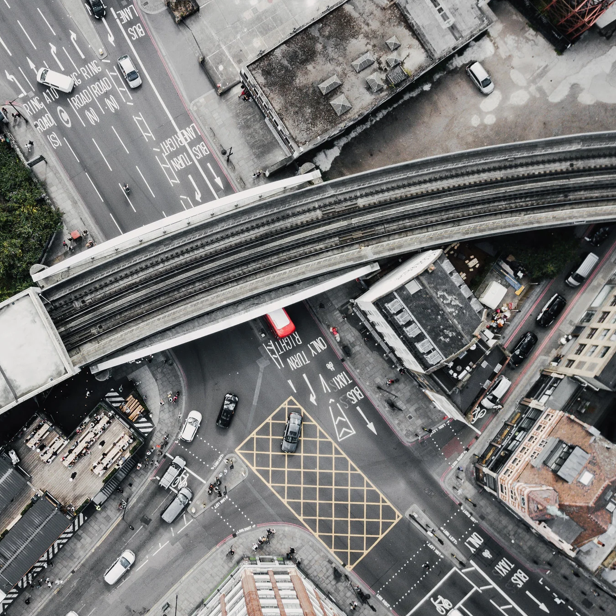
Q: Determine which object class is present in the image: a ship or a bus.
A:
bus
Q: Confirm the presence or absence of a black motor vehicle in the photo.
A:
Yes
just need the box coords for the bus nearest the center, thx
[260,307,297,344]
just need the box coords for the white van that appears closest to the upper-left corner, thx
[32,66,79,97]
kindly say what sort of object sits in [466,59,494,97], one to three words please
car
